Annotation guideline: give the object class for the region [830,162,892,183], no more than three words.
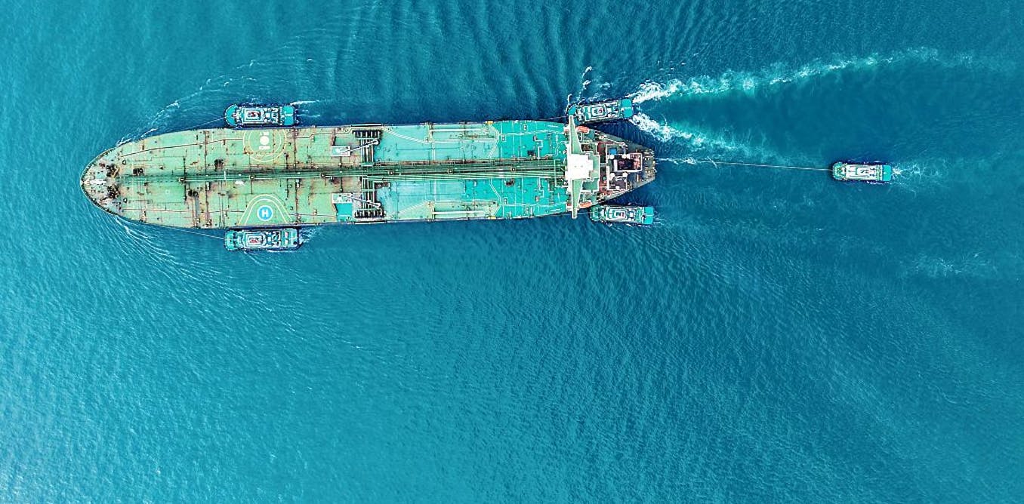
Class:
boat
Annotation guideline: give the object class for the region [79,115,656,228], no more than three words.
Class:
ship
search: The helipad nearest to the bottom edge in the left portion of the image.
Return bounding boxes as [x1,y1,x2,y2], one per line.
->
[239,194,295,224]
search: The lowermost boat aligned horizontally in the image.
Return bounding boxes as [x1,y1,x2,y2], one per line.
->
[224,228,299,251]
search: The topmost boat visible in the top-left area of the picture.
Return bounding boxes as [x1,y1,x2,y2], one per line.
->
[225,105,296,127]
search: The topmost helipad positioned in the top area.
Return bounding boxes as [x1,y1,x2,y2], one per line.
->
[242,128,286,162]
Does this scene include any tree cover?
No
